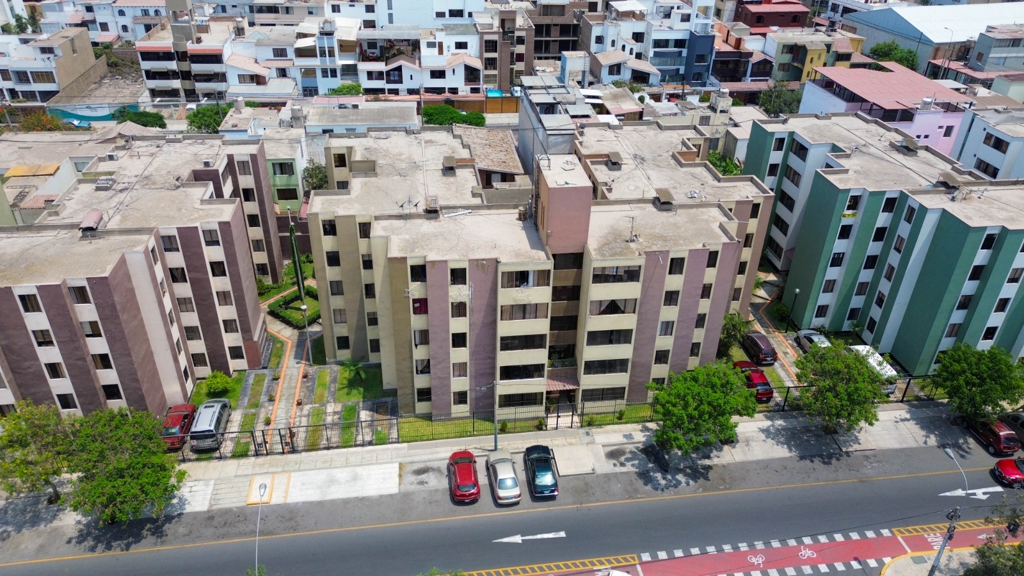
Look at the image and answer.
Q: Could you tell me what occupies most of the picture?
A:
buildings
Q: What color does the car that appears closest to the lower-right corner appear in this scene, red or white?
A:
red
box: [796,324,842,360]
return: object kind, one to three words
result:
car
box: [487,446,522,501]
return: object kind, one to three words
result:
car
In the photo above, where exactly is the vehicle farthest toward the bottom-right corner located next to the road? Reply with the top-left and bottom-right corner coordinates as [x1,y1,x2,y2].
[987,452,1024,487]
